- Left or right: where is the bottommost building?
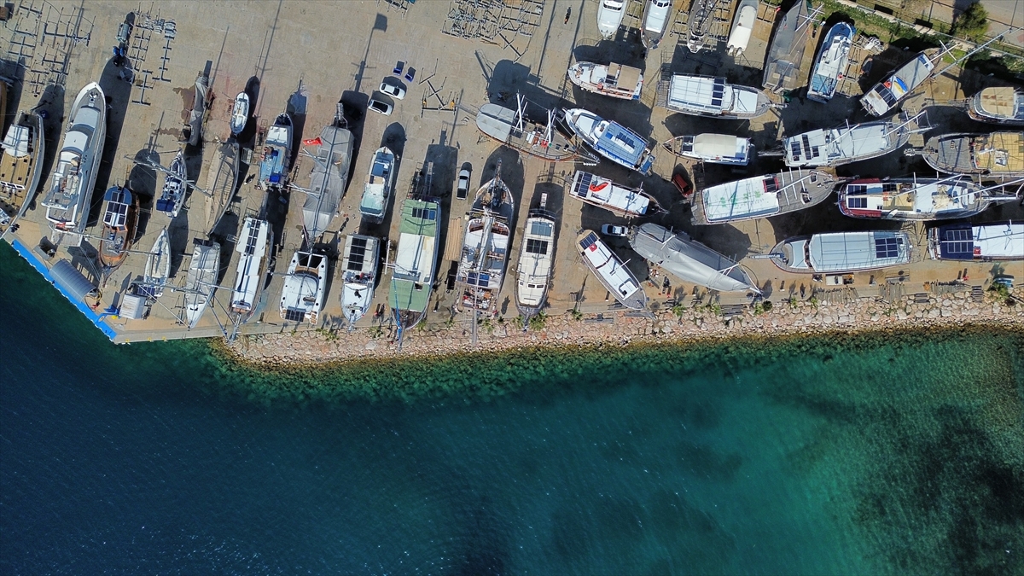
left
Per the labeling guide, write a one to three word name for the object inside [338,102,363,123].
car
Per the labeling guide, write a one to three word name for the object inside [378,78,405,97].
car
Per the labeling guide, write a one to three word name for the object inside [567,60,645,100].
boat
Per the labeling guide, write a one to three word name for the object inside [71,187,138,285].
boat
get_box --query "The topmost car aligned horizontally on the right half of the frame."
[601,222,629,236]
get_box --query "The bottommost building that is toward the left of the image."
[118,291,149,321]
